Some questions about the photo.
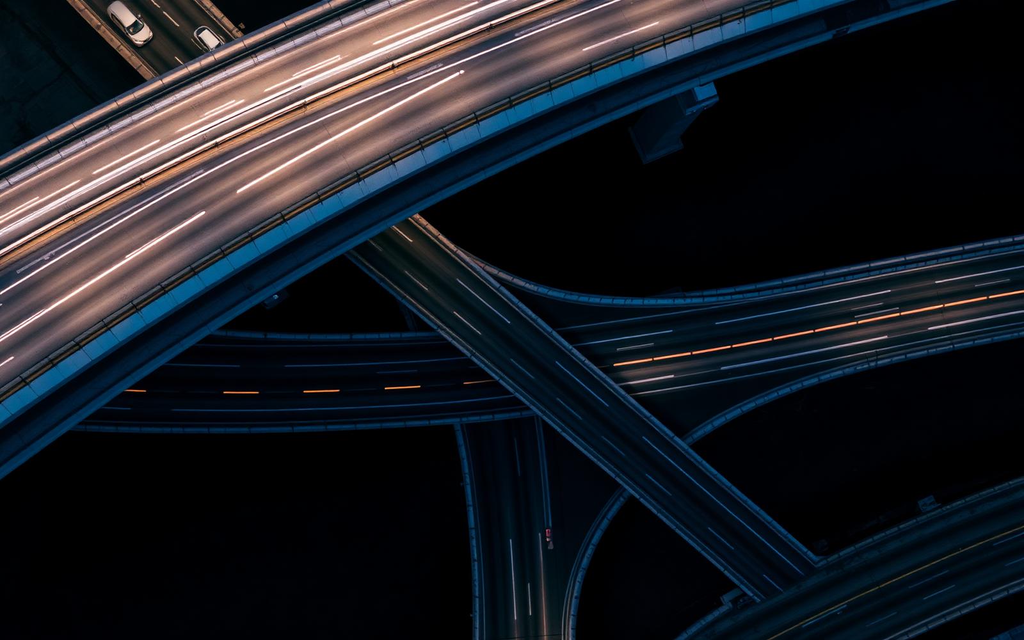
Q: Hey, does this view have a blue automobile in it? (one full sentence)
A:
No, the photo shows no blue automobile.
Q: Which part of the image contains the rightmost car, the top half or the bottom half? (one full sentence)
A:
It is in the top half that the rightmost car appears.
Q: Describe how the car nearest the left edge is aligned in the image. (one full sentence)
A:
The car nearest the left edge runs diagonally in the image.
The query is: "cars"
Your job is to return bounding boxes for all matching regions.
[108,1,153,46]
[194,26,226,52]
